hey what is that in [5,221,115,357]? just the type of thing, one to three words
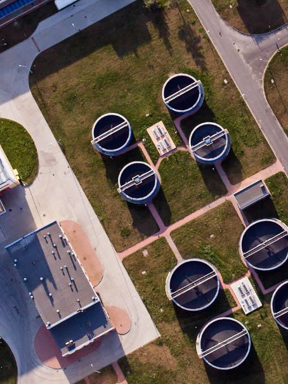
building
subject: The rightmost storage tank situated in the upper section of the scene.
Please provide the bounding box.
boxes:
[189,122,231,164]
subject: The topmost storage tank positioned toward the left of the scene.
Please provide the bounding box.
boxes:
[90,113,133,155]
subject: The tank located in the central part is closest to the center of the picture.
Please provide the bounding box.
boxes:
[118,162,161,203]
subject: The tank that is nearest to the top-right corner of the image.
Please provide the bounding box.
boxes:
[163,74,205,115]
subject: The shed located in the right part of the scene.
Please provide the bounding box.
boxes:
[234,180,270,209]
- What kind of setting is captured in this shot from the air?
industrial area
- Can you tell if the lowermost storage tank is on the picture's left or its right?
right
